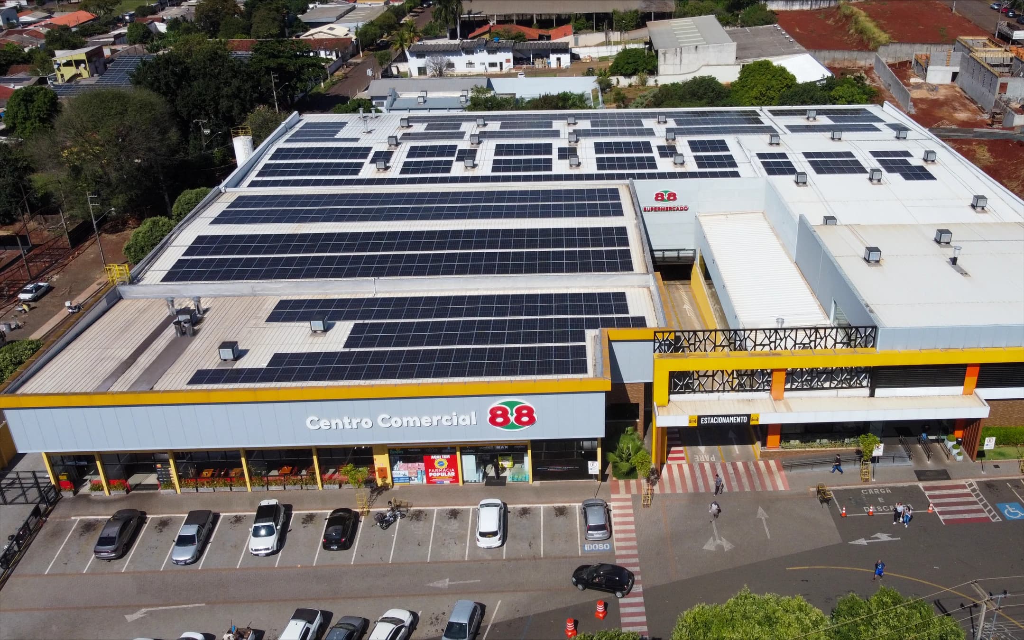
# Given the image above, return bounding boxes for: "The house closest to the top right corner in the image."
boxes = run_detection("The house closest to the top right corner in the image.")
[911,36,1024,116]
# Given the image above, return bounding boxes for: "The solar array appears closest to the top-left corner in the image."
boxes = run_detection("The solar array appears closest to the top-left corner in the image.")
[54,56,255,99]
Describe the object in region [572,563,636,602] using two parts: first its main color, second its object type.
black car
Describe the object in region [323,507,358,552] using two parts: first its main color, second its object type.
black car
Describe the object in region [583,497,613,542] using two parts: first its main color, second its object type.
gray car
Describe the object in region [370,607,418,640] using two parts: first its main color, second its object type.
white car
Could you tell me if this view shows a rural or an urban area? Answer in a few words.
urban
